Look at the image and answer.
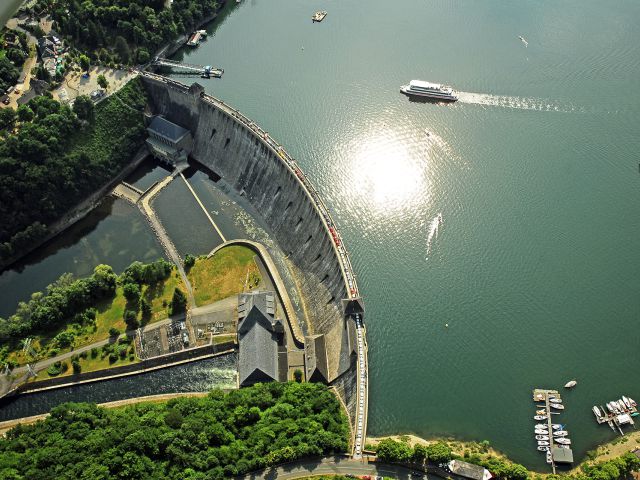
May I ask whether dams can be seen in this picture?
Yes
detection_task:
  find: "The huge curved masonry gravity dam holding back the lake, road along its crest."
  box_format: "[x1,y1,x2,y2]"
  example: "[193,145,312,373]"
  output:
[138,69,371,460]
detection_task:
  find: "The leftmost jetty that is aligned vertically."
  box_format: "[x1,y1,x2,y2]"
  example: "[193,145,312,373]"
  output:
[533,389,560,470]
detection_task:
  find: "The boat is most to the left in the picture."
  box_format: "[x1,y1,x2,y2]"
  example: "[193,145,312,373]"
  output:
[187,30,204,45]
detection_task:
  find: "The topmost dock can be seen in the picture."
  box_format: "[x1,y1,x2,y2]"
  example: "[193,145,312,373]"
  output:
[162,61,223,75]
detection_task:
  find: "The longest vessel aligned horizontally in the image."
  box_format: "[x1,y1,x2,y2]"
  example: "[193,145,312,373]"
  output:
[400,86,458,104]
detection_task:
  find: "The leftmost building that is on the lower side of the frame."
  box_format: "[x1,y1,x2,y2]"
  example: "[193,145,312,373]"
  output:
[238,293,288,393]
